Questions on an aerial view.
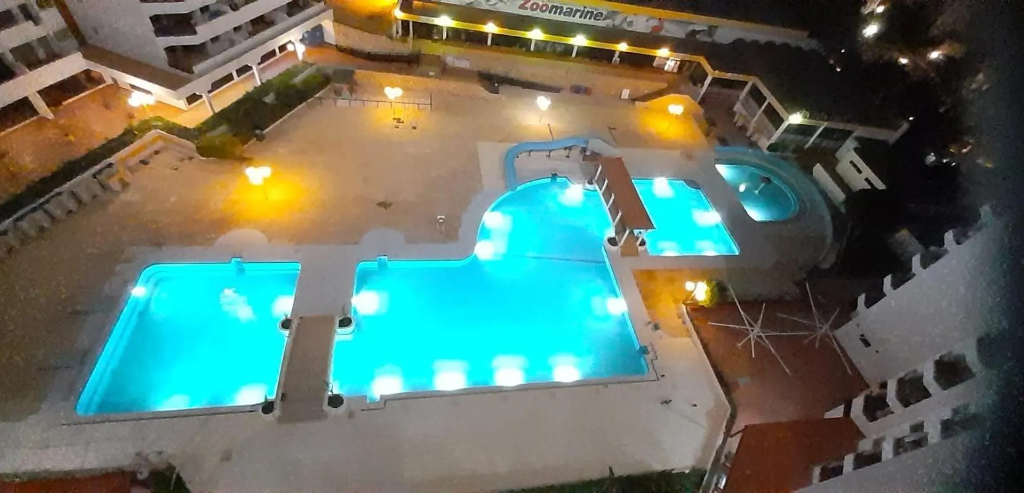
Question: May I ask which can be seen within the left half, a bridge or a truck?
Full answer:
The feature located within the left half is a bridge.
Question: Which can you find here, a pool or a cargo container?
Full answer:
The one in the frame is a pool.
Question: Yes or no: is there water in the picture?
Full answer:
Yes, some water is visible.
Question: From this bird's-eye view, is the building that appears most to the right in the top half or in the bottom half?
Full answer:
It is in the bottom half that the building that appears most to the right appears.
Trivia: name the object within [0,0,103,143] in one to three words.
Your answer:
building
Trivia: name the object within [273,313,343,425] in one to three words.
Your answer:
bridge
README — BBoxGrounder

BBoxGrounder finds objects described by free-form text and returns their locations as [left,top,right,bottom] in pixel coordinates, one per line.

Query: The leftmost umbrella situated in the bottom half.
[709,286,803,373]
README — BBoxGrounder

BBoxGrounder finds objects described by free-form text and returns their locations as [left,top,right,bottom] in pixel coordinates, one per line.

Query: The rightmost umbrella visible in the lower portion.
[777,288,872,376]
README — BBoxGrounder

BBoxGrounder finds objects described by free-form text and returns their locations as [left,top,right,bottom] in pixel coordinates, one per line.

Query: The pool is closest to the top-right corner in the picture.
[711,161,802,224]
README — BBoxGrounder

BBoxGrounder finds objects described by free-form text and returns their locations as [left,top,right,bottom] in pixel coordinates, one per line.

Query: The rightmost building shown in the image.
[834,179,1024,493]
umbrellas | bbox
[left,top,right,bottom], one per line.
[777,288,872,376]
[709,286,803,373]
